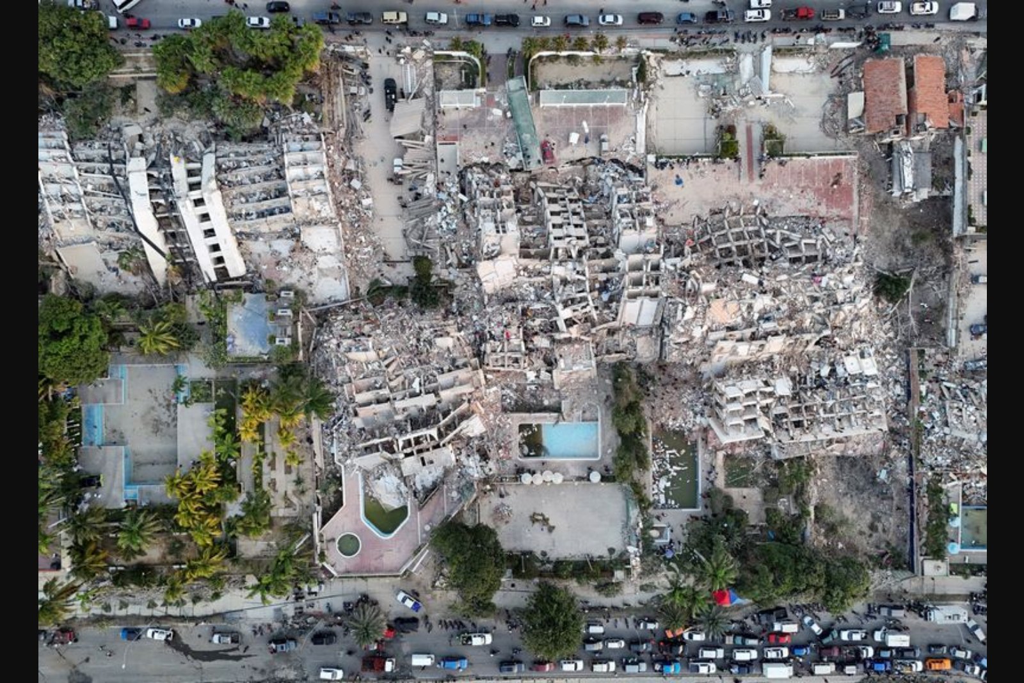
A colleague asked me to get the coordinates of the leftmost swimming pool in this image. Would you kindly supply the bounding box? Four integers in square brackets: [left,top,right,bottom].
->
[80,363,188,503]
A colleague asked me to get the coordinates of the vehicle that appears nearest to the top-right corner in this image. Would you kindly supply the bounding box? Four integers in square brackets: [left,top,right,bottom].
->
[944,4,977,21]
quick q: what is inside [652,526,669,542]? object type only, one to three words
swimming pool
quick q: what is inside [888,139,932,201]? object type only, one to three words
shed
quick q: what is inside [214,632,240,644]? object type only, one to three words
vehicle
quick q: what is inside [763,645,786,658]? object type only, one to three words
vehicle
